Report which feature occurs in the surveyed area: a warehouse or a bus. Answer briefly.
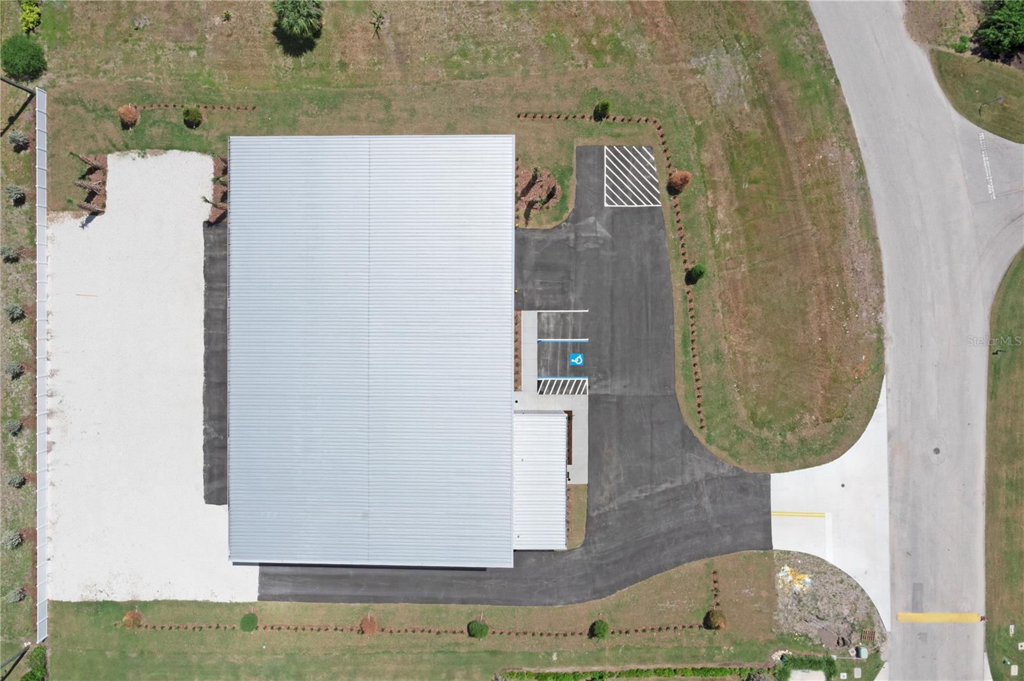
warehouse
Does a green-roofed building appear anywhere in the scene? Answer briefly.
No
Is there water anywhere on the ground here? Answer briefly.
No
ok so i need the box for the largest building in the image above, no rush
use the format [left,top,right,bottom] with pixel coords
[226,134,515,567]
